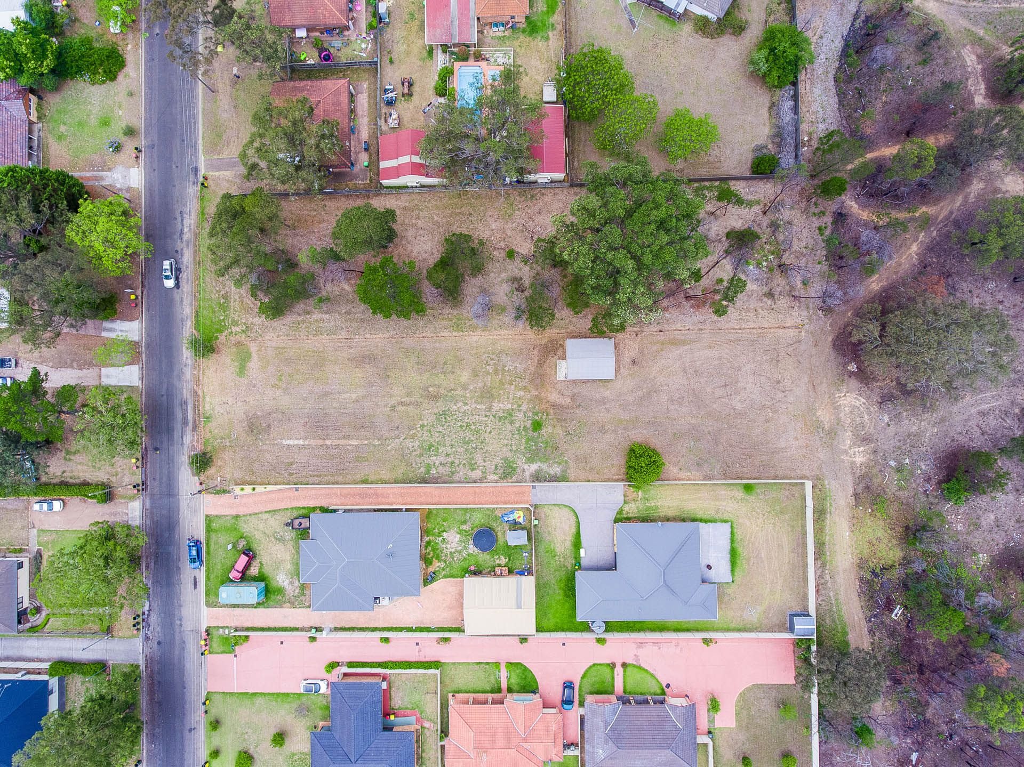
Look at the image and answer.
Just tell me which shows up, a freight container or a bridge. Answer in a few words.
freight container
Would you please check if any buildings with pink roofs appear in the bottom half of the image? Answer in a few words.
Yes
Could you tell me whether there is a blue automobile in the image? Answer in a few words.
Yes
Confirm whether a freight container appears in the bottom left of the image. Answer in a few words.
Yes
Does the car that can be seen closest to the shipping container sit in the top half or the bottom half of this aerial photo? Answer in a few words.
bottom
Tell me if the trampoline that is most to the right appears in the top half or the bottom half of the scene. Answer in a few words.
bottom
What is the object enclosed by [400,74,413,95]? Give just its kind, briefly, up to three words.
vehicle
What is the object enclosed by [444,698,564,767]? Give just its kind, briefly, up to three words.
house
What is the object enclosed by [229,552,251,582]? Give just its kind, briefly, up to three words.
car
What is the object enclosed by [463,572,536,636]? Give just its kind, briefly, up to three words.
building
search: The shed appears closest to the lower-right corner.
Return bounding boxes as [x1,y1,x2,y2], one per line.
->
[790,613,815,636]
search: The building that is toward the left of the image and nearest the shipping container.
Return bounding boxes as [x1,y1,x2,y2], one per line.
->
[299,510,421,612]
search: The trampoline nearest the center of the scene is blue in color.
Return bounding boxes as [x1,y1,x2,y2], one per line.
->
[473,530,496,553]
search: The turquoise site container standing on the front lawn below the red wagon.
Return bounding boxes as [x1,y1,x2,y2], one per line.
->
[217,579,263,605]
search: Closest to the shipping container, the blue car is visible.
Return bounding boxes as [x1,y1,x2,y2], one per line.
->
[184,536,201,570]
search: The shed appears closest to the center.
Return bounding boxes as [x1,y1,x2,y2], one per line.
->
[566,338,615,380]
